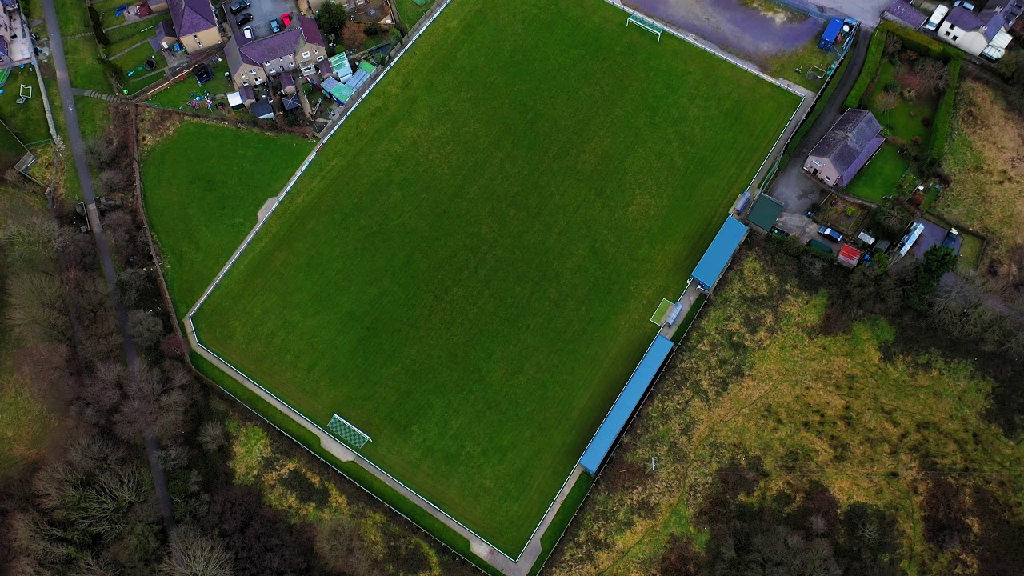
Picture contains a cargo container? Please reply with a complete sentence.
Yes, you can see a cargo container in this photo.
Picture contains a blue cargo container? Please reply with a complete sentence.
Yes, looking at the shot, I can spot a blue cargo container.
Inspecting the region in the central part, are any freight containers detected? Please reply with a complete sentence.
No, looking in the central part, there is no freight container.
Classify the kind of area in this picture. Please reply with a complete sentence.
The area seen from above is a sports ground.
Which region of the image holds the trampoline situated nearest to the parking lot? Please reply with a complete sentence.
The trampoline situated nearest to the parking lot appears toward the top left of the photo.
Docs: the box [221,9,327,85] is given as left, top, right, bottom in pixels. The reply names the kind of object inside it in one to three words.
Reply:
house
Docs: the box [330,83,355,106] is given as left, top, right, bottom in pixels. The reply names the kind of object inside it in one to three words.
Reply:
shed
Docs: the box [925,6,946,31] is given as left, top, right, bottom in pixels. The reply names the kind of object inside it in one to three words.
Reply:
camper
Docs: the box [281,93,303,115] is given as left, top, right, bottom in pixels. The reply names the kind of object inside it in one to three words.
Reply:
gazebo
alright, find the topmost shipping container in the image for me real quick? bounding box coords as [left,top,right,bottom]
[818,18,845,51]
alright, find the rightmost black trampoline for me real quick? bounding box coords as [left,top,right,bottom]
[190,61,212,84]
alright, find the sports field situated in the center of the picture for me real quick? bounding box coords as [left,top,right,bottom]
[191,0,800,559]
